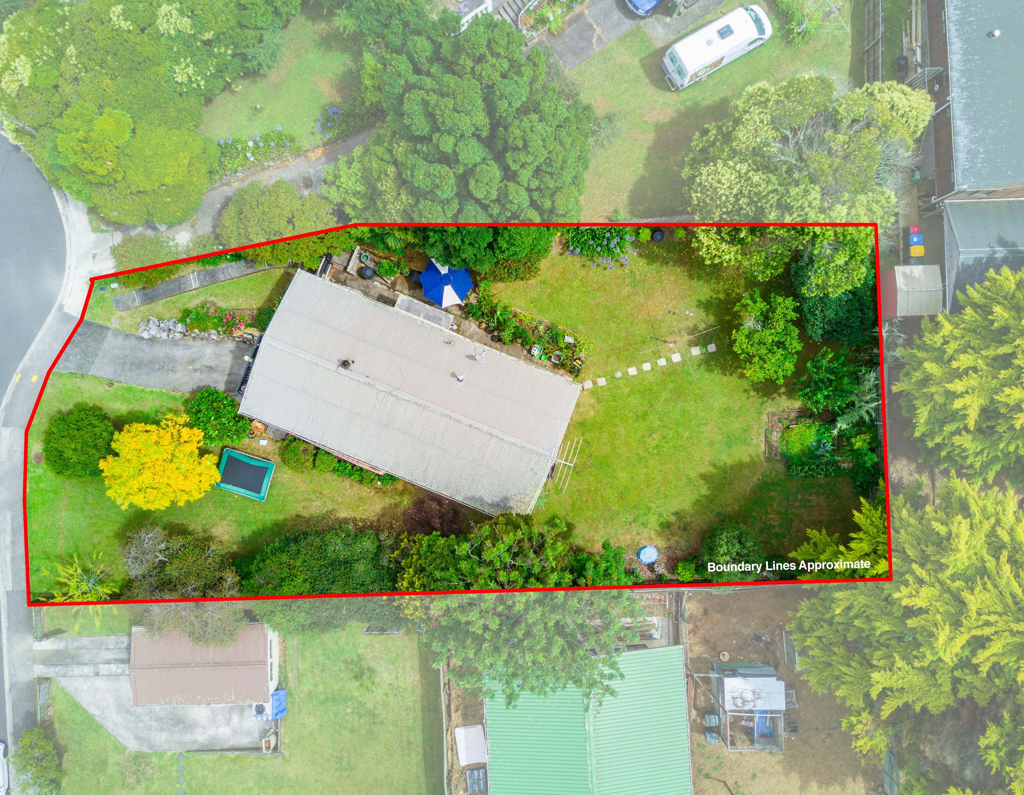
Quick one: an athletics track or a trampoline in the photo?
trampoline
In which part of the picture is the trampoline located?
left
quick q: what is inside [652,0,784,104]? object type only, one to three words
van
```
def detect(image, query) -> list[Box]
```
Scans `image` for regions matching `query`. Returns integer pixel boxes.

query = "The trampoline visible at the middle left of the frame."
[216,448,278,500]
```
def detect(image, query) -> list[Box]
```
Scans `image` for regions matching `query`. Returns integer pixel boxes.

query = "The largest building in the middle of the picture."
[227,265,583,527]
